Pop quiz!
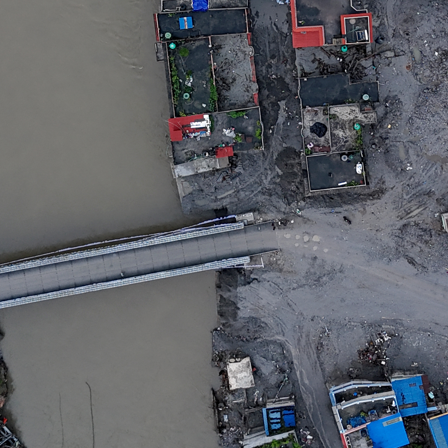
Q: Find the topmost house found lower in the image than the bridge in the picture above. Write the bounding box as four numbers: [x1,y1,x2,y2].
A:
[226,352,255,391]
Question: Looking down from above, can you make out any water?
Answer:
Yes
